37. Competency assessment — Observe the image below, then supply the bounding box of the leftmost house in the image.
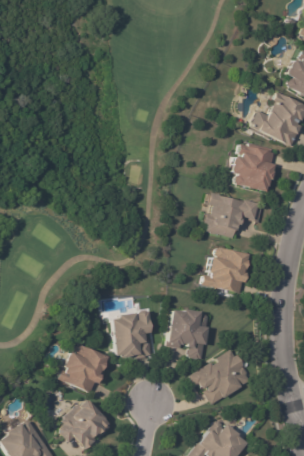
[0,420,54,456]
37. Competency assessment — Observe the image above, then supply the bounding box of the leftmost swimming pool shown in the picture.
[0,396,30,433]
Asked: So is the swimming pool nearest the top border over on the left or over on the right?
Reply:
right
